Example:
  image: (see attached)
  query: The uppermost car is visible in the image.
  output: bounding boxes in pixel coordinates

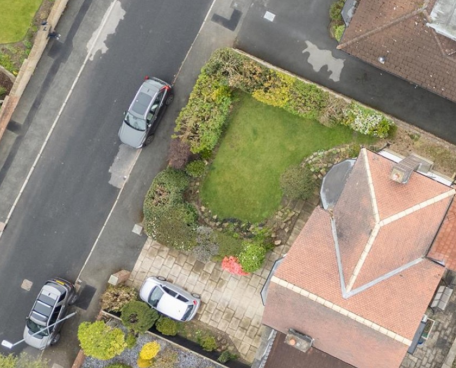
[110,73,171,152]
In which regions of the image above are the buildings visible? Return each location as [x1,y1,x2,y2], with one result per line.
[260,147,456,368]
[337,0,456,101]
